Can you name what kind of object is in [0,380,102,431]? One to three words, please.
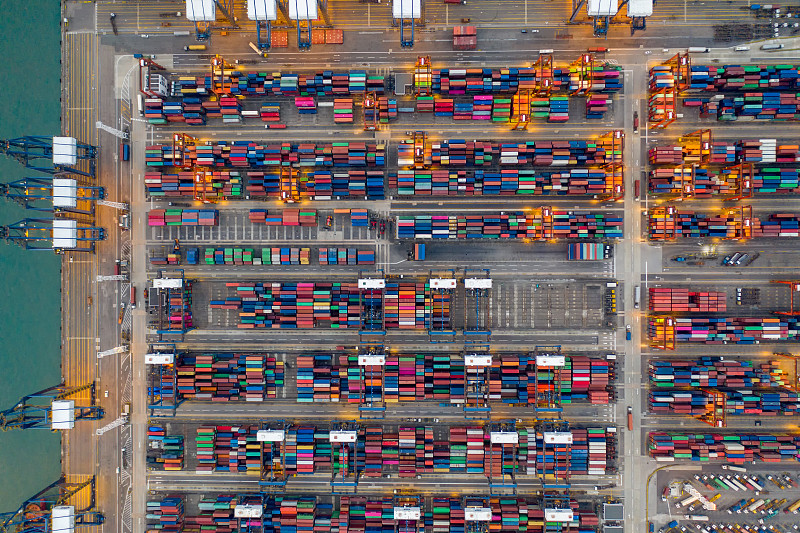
container crane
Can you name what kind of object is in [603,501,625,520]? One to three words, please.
building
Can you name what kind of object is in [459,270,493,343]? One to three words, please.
container crane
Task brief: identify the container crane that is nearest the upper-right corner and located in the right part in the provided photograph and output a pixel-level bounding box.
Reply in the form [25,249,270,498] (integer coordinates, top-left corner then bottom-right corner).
[660,51,690,95]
